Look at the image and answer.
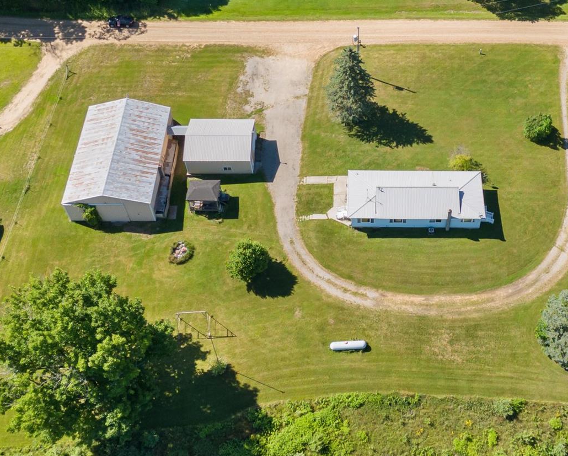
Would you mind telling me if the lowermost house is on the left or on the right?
right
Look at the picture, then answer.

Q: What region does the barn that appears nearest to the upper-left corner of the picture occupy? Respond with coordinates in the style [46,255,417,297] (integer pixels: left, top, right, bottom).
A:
[63,99,173,224]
